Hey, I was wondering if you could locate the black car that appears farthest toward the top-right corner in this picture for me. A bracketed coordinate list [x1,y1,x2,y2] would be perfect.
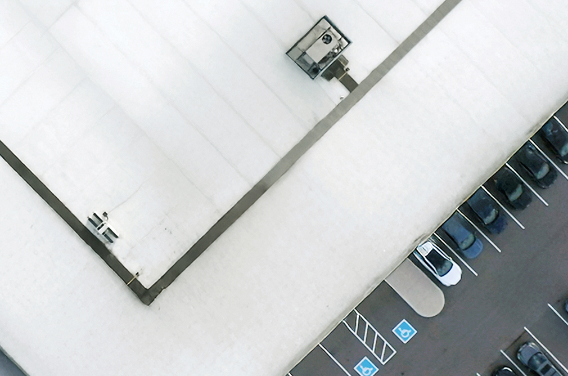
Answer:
[532,118,568,164]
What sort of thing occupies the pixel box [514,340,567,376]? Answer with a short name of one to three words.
car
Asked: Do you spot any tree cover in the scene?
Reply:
No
